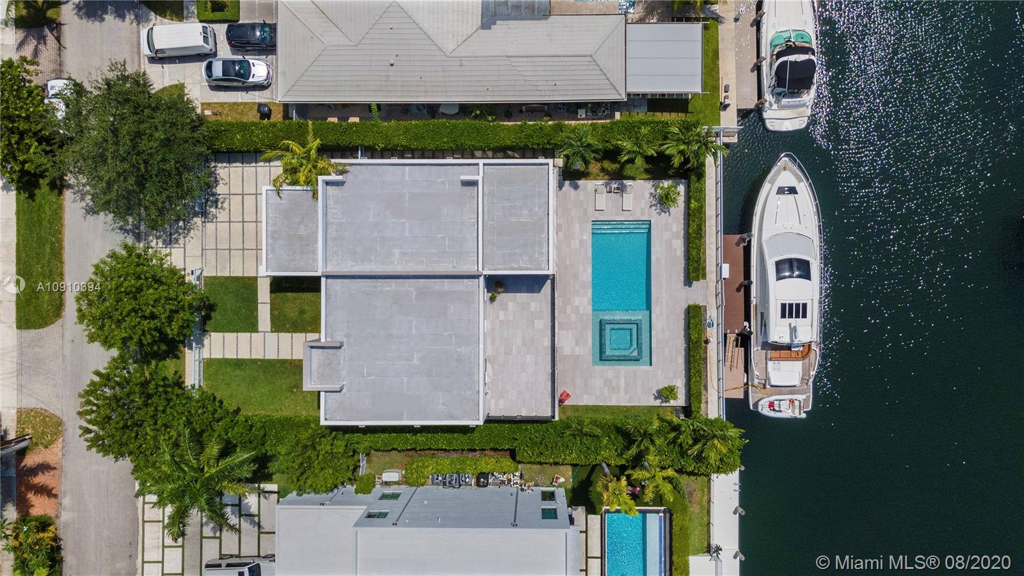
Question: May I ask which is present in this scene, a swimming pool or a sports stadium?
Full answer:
It is a swimming pool that can be seen here.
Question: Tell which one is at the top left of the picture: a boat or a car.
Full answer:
There is a car at the top left of the picture.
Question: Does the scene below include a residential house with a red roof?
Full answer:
No, there appears to be no residential house with a red roof in this shot.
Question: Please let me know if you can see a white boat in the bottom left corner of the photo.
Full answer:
No, there's no white boat to be seen in the bottom left corner of the photo.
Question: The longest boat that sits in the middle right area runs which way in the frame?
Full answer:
I'd say the longest boat that sits in the middle right area is aligned from top to bottom in the picture.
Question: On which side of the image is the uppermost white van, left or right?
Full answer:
It is on the left.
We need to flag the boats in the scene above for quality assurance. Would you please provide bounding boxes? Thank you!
[757,0,817,130]
[758,395,809,420]
[748,151,823,410]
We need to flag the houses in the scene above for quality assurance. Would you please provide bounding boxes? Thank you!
[259,157,558,428]
[276,485,579,576]
[276,0,627,106]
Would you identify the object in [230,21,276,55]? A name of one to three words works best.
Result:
car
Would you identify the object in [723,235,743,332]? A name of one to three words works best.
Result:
pier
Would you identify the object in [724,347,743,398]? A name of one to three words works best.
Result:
pier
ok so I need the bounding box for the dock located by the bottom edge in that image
[712,471,739,576]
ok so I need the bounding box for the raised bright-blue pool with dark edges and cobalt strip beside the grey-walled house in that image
[600,505,676,576]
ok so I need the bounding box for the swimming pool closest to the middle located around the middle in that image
[591,221,651,366]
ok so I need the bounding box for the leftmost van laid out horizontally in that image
[144,22,220,60]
